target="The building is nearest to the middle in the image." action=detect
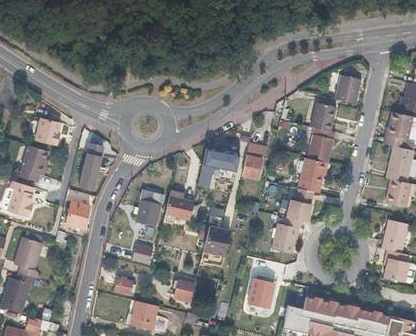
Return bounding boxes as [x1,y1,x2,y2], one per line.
[198,148,239,188]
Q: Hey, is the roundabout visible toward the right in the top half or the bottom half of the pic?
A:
bottom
